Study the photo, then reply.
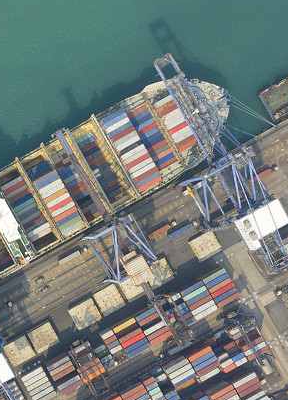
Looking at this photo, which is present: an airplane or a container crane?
container crane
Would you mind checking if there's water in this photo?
Yes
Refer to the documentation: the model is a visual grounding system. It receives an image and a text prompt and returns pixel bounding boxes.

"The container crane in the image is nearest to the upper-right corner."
[150,49,288,263]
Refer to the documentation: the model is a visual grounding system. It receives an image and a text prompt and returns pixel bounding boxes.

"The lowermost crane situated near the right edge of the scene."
[216,308,279,370]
